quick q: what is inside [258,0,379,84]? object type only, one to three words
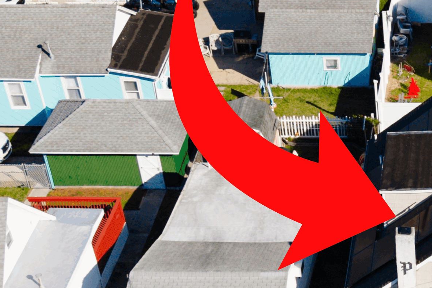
shed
